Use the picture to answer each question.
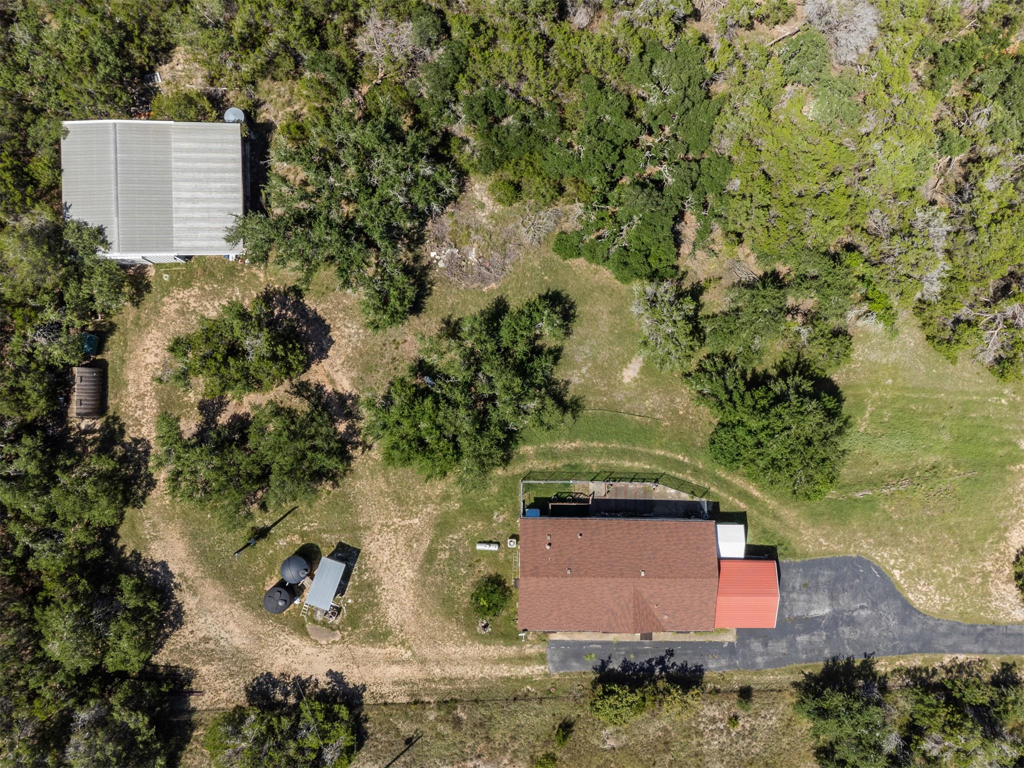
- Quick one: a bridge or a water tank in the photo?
water tank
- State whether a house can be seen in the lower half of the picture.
Yes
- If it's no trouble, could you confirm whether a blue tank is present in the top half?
No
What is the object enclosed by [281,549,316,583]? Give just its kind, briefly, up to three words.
water tank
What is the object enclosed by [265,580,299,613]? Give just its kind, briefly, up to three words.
water tank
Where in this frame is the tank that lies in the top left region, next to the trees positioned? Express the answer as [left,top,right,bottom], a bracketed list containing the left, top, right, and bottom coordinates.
[224,105,253,134]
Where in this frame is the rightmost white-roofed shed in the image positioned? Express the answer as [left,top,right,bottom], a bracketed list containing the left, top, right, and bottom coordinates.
[717,521,745,558]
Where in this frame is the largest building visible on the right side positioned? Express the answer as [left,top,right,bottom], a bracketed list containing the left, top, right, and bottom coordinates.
[518,517,719,634]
